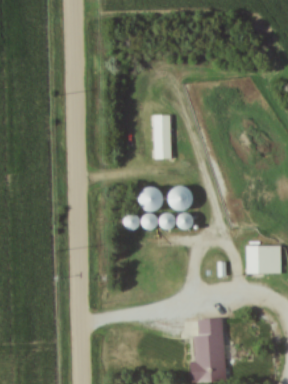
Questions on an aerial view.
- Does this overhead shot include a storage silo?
Yes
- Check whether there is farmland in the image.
Yes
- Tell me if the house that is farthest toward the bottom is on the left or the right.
right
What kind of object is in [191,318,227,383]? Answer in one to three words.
house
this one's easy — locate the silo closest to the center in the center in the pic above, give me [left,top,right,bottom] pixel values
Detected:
[138,186,164,212]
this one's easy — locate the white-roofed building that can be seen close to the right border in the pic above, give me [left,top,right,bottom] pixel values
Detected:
[247,240,282,274]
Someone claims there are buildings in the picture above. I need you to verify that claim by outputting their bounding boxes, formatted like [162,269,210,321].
[152,114,172,158]
[191,318,227,383]
[247,240,282,274]
[216,260,227,278]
